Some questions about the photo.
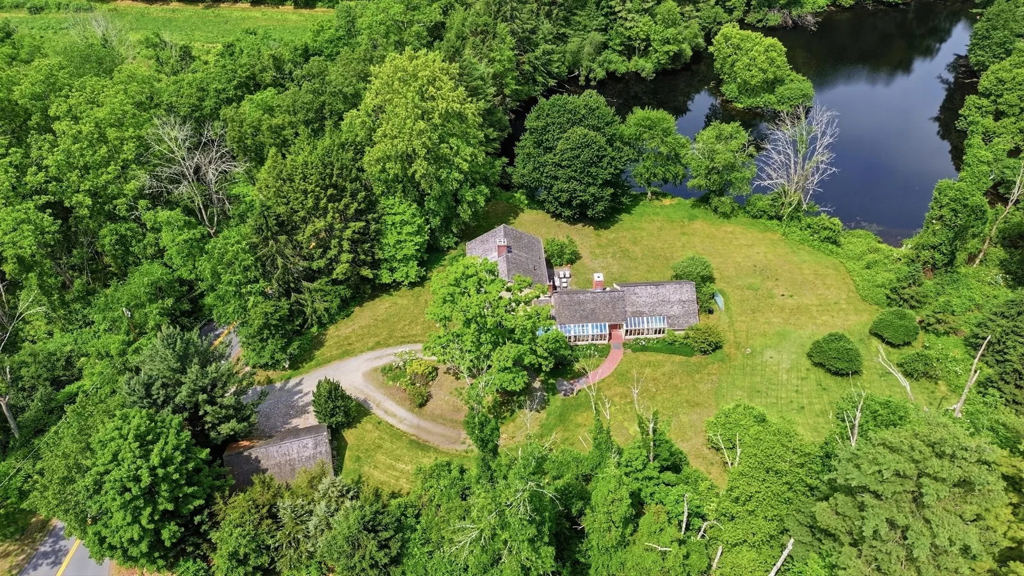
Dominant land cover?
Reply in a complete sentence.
The scene is dominated by trees.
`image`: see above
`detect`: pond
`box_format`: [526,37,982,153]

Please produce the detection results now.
[488,3,982,248]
